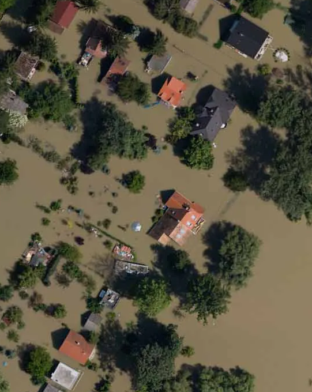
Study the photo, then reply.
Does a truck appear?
No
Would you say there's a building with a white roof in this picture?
Yes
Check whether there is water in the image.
Yes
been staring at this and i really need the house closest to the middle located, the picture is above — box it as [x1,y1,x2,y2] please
[155,187,210,248]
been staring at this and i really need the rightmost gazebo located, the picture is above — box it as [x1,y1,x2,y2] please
[271,47,288,64]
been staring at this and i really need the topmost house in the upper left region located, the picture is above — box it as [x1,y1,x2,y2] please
[45,0,81,35]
